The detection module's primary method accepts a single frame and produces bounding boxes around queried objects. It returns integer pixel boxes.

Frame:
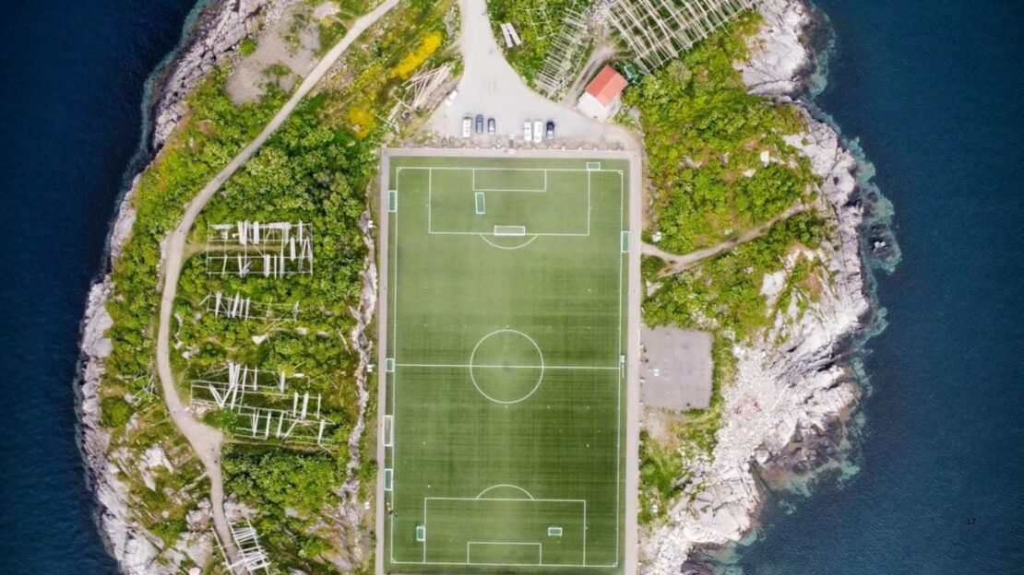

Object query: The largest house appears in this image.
[579,64,627,119]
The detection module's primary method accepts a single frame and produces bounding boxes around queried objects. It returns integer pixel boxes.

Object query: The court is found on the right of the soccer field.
[642,325,712,411]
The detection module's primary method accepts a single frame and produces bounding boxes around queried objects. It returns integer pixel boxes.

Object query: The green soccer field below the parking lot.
[381,154,631,575]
